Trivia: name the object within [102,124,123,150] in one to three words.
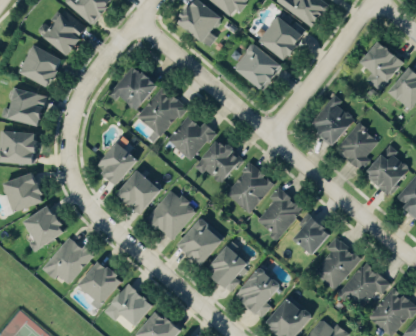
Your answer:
swimming pool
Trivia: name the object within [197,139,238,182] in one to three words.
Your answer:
house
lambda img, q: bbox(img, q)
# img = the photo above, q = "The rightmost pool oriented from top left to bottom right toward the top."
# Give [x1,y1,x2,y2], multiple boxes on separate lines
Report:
[133,120,154,138]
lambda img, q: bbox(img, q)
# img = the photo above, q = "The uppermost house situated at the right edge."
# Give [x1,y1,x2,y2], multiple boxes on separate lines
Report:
[359,43,400,87]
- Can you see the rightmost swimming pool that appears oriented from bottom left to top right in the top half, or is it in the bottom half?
top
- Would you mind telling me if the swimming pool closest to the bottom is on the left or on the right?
left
